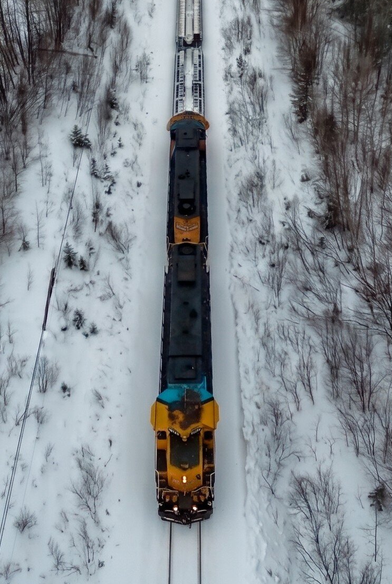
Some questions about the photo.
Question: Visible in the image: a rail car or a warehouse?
rail car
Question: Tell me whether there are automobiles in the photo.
No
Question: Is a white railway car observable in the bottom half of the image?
No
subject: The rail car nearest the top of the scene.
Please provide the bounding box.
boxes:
[175,0,203,45]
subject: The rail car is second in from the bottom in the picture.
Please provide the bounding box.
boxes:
[166,118,210,268]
